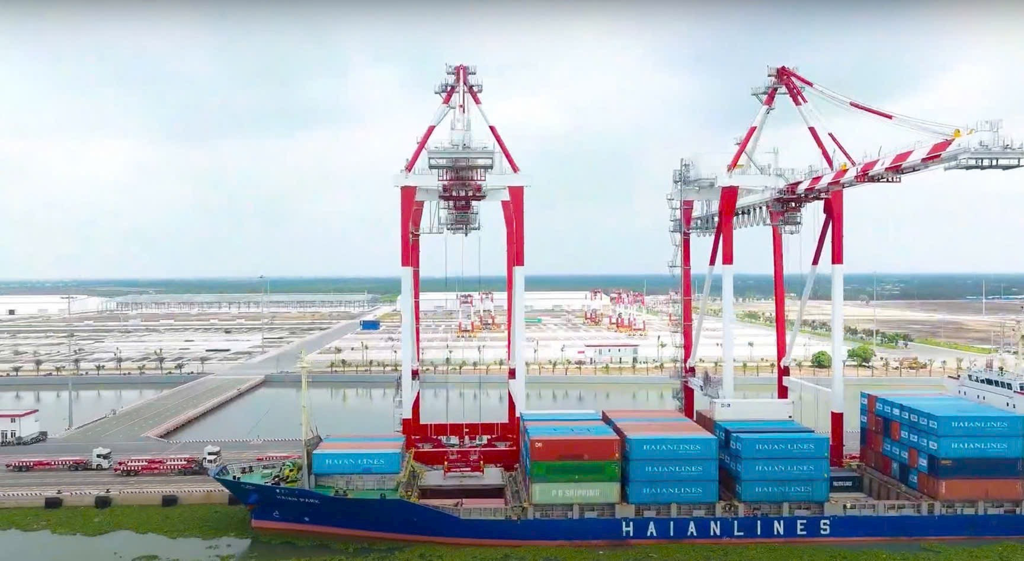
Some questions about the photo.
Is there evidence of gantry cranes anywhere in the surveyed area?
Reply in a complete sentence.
Yes, the photo shows a gantry crane.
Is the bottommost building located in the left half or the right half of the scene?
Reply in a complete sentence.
The bottommost building appears in the left half of the scene.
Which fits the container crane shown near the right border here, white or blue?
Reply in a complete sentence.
From above, the container crane shown near the right border appears white.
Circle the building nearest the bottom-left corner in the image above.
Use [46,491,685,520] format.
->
[0,406,48,445]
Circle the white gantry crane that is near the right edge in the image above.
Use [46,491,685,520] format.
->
[659,59,1024,468]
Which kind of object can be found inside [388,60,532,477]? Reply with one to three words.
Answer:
container crane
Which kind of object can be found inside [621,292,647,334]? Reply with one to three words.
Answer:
container crane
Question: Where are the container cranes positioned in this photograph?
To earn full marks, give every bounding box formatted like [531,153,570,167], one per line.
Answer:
[480,291,496,328]
[458,292,476,334]
[583,289,601,322]
[611,291,632,331]
[663,289,682,326]
[659,59,1024,468]
[388,60,532,477]
[621,292,647,334]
